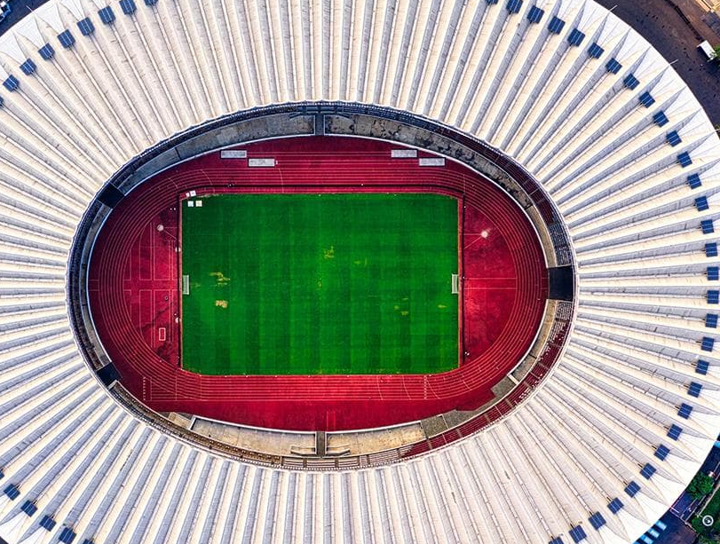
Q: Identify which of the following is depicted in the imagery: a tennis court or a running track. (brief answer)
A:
running track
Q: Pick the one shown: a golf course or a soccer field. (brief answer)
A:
soccer field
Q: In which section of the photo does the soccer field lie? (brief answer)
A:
center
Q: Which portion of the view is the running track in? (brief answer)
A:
center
